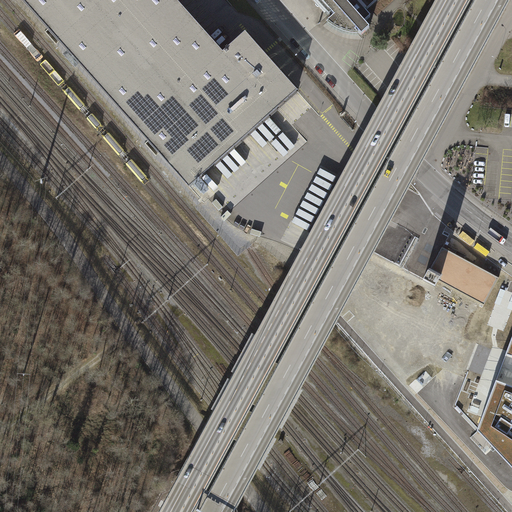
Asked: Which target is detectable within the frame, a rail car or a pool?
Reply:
rail car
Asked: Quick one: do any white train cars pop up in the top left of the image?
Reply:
Yes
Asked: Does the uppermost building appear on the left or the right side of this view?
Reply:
right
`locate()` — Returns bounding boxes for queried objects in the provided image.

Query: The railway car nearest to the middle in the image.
[125,158,150,186]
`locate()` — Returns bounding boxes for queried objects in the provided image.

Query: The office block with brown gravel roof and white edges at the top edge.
[321,0,377,40]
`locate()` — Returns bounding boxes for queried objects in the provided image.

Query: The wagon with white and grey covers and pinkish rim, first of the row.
[14,30,44,62]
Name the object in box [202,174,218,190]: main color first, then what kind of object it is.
white vehicle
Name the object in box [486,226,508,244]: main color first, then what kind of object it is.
white vehicle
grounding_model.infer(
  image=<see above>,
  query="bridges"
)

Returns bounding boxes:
[160,0,472,512]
